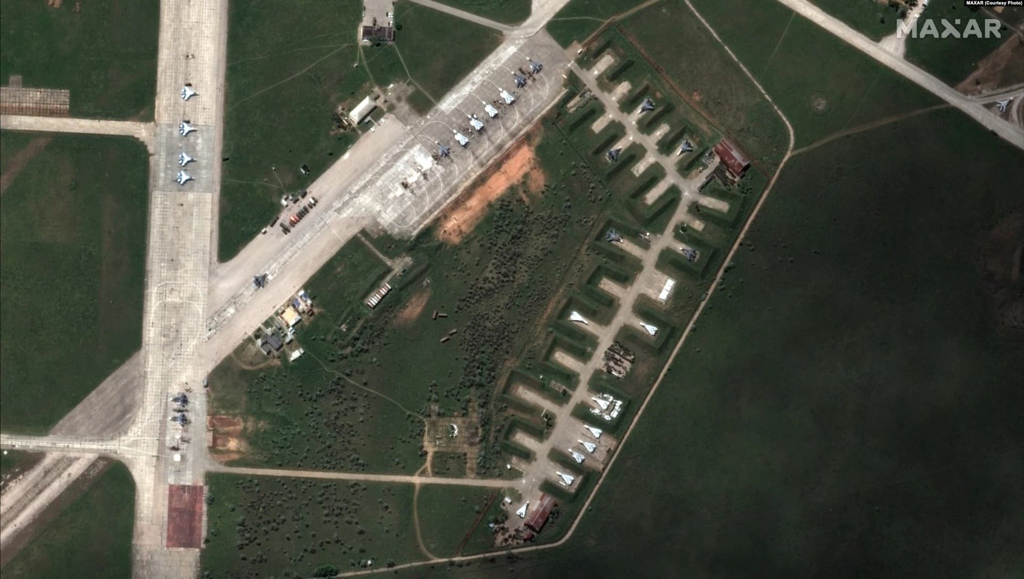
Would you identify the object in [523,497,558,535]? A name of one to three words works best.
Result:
shed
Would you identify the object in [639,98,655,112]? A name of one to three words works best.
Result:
airplane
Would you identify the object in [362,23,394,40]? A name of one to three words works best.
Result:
building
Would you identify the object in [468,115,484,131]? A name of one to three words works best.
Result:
airplane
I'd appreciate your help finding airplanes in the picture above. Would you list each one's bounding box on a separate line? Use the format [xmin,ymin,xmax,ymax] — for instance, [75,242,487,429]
[592,398,610,410]
[176,171,193,184]
[606,146,622,161]
[569,311,587,323]
[516,502,528,520]
[181,87,197,100]
[482,101,498,118]
[170,413,187,426]
[556,472,575,485]
[468,115,484,131]
[606,229,622,242]
[639,98,655,112]
[640,323,659,335]
[252,273,267,288]
[438,143,453,157]
[579,441,596,454]
[569,450,585,464]
[499,89,515,104]
[179,123,196,136]
[513,73,529,87]
[677,140,692,156]
[171,393,188,407]
[528,58,544,73]
[585,426,603,439]
[680,248,698,260]
[179,152,197,165]
[454,130,469,146]
[997,98,1011,108]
